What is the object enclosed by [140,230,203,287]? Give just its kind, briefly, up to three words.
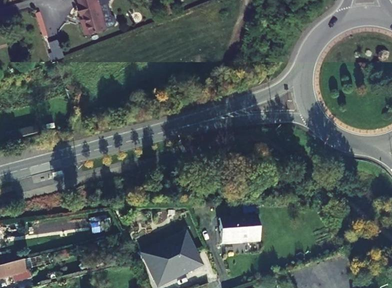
house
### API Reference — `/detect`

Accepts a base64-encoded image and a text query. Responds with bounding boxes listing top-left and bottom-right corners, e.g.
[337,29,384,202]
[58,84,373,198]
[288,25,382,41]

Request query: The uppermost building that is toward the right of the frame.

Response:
[220,212,263,244]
